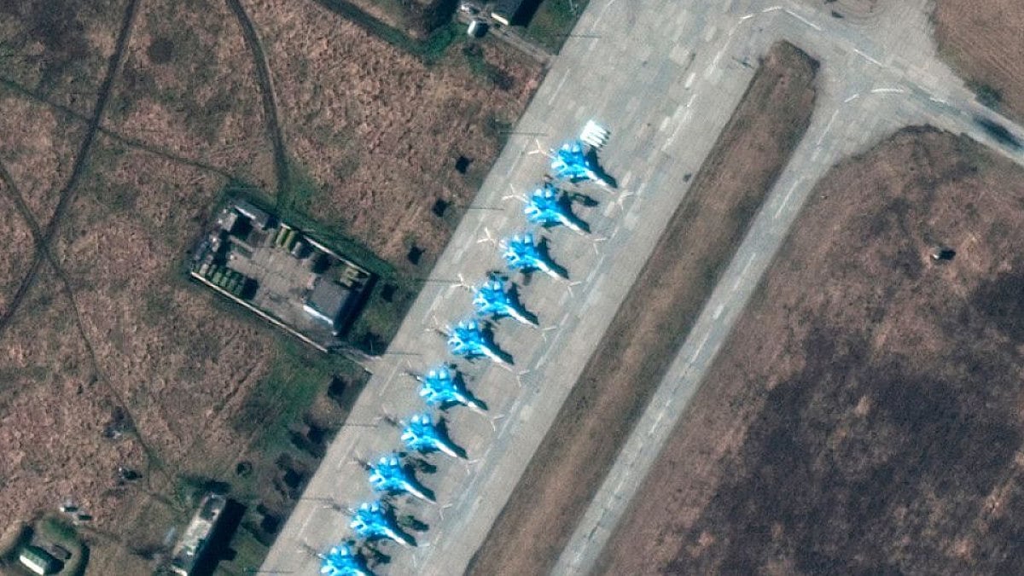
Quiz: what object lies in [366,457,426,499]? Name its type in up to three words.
airplane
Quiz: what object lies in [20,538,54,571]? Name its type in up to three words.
building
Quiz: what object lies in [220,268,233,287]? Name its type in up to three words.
vehicle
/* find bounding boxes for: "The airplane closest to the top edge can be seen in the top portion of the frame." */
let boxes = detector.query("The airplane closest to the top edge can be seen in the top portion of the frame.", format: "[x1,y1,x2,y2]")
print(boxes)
[549,144,608,186]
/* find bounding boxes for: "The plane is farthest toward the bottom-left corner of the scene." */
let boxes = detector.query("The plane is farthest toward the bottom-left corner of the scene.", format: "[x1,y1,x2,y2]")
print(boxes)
[317,548,360,576]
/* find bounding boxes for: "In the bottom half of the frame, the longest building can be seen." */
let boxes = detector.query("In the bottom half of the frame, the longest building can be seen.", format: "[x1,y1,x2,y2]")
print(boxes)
[173,492,228,571]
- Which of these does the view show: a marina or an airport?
airport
